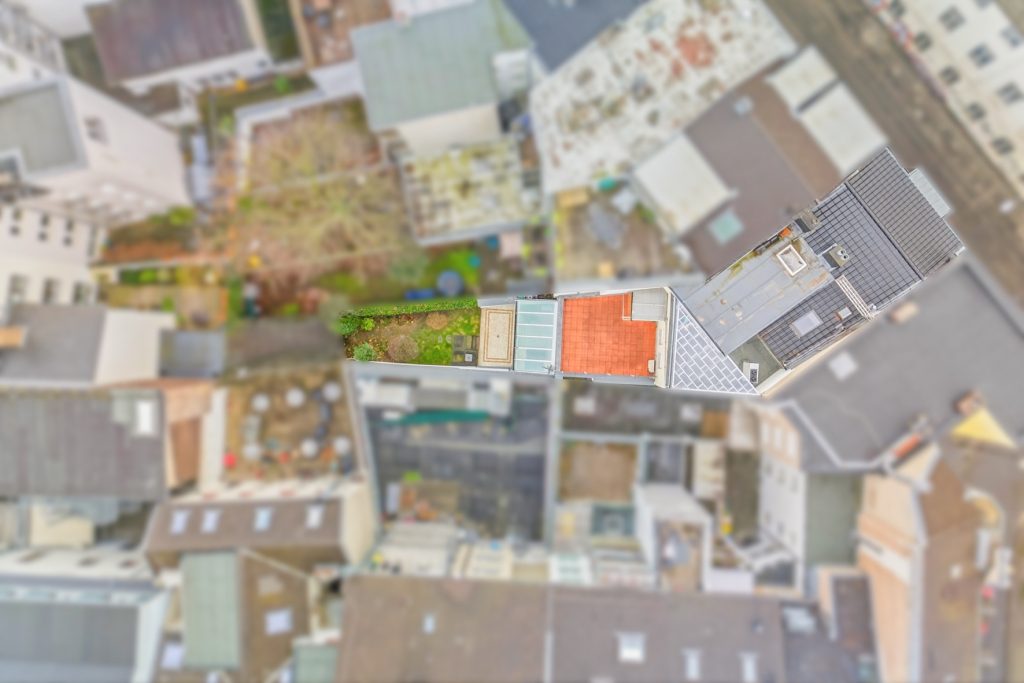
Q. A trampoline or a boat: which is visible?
trampoline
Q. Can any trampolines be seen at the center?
Yes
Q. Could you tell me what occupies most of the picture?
buildings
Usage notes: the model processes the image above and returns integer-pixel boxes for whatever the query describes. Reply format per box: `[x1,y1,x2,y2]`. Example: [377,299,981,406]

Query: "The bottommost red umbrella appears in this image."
[225,451,245,466]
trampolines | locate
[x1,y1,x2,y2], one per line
[436,271,462,297]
